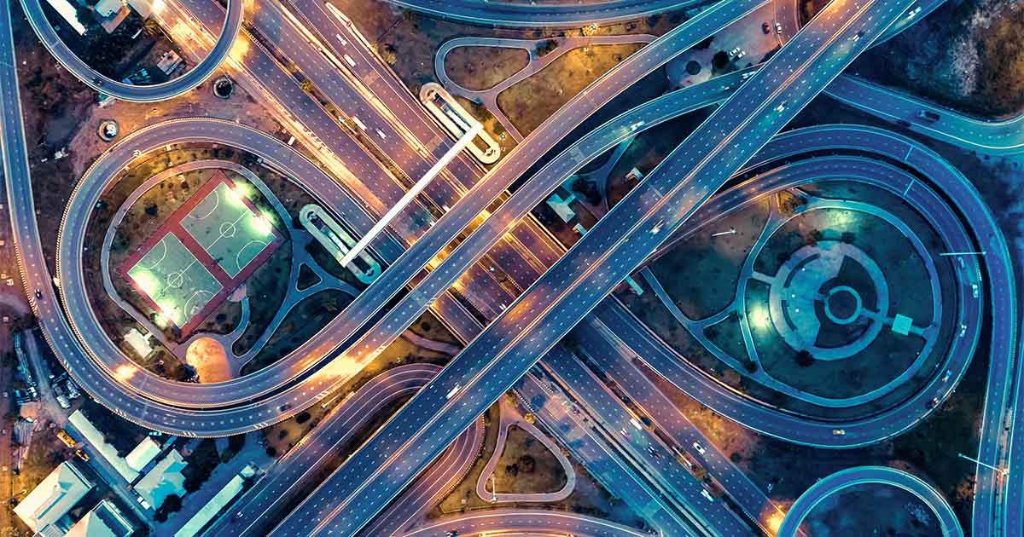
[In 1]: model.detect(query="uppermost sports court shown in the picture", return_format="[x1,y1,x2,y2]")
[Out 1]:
[179,182,276,278]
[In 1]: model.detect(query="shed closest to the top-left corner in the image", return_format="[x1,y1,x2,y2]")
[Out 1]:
[51,0,90,38]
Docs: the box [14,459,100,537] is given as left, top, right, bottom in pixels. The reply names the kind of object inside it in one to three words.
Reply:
building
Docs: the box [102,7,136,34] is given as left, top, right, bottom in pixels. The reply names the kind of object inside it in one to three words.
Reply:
house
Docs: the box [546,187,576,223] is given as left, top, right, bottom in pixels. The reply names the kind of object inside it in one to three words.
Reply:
house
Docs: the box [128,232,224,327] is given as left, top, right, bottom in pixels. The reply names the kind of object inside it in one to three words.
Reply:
sports court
